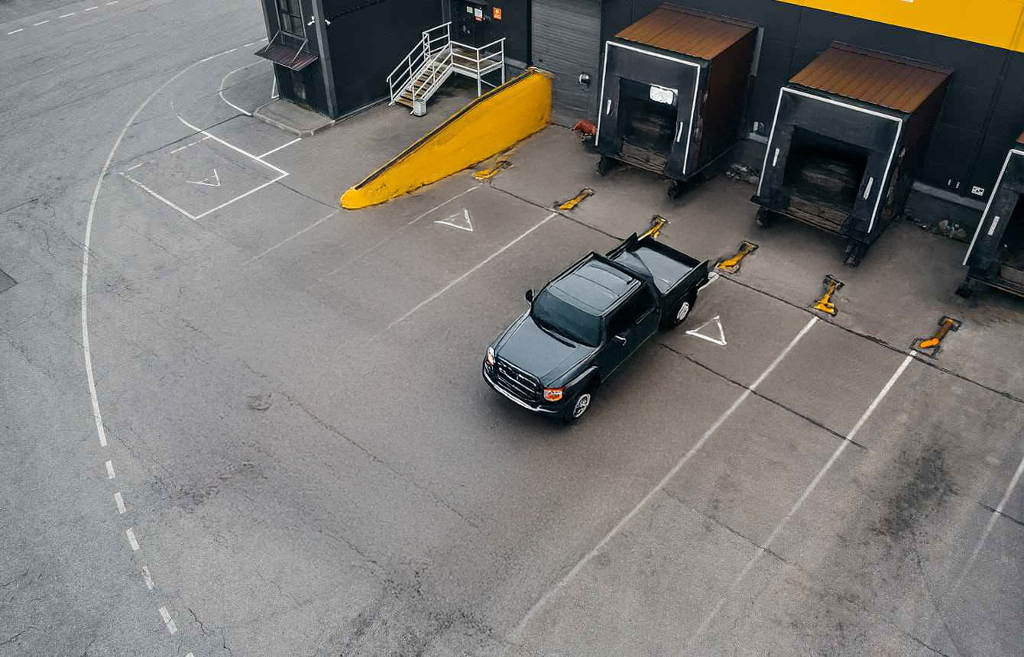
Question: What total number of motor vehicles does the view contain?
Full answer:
I count just 1 motor vehicle.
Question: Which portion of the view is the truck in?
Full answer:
The truck sits in the center section of the image.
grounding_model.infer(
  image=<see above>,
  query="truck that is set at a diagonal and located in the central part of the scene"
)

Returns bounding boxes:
[479,228,706,424]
